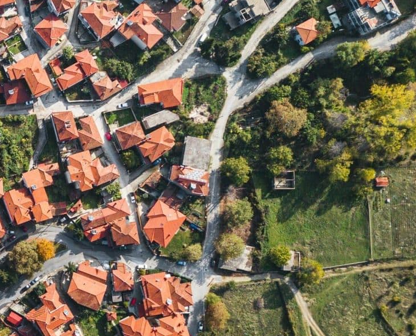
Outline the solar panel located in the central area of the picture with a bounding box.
[175,168,203,190]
